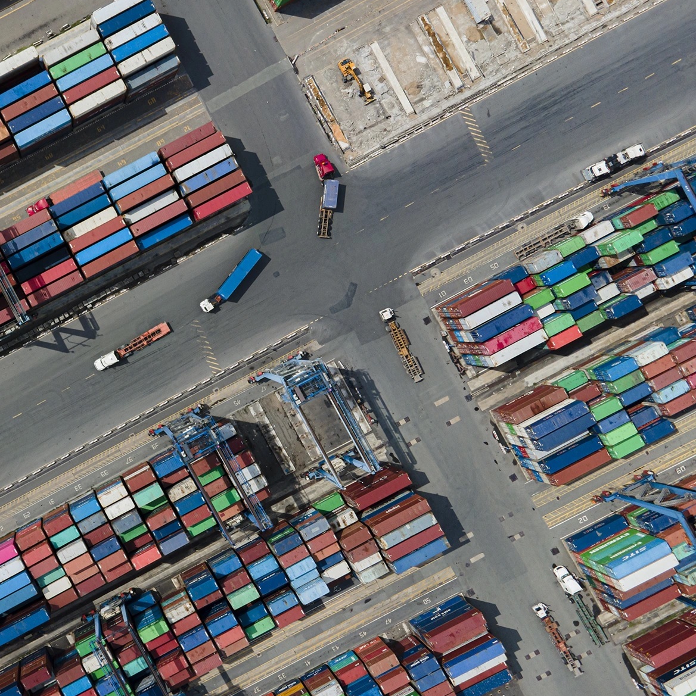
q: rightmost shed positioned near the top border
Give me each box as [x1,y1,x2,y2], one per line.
[460,0,493,25]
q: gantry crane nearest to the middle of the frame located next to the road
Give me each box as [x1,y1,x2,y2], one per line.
[247,349,389,495]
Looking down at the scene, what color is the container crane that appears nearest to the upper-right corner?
blue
